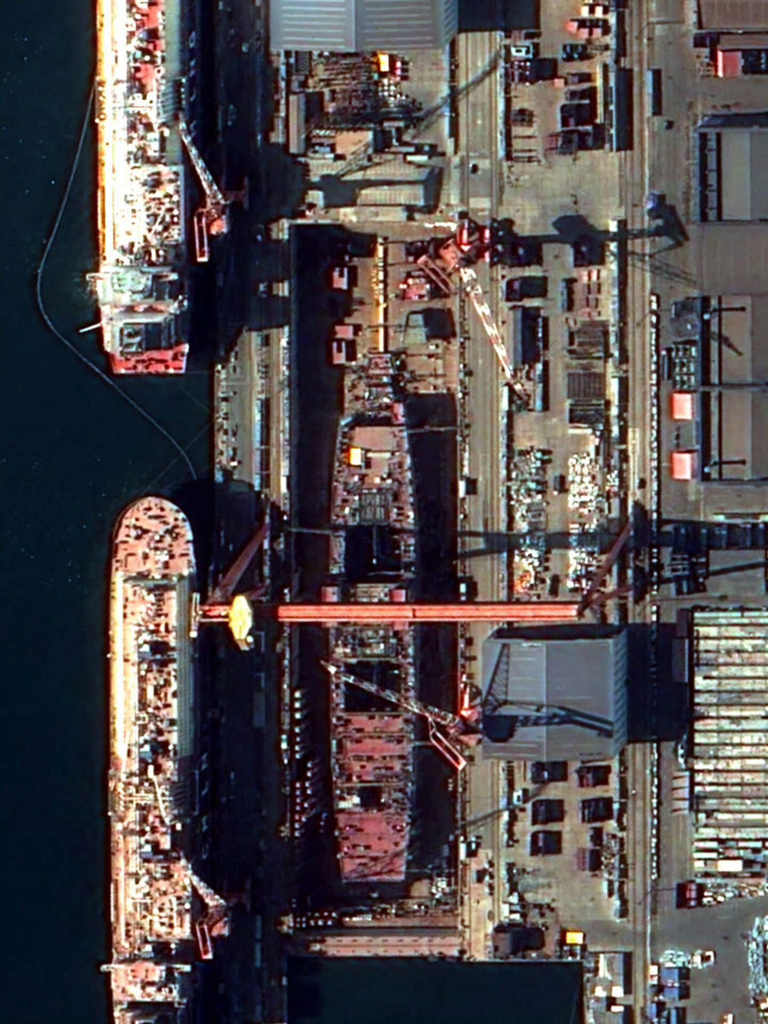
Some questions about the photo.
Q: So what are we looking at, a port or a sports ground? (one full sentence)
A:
What you see here is a port.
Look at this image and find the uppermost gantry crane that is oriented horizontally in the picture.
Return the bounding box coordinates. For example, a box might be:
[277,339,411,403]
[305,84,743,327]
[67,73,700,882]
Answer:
[191,512,632,649]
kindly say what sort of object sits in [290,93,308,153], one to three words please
shed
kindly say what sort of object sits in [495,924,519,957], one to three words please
building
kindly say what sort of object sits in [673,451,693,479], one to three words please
shed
